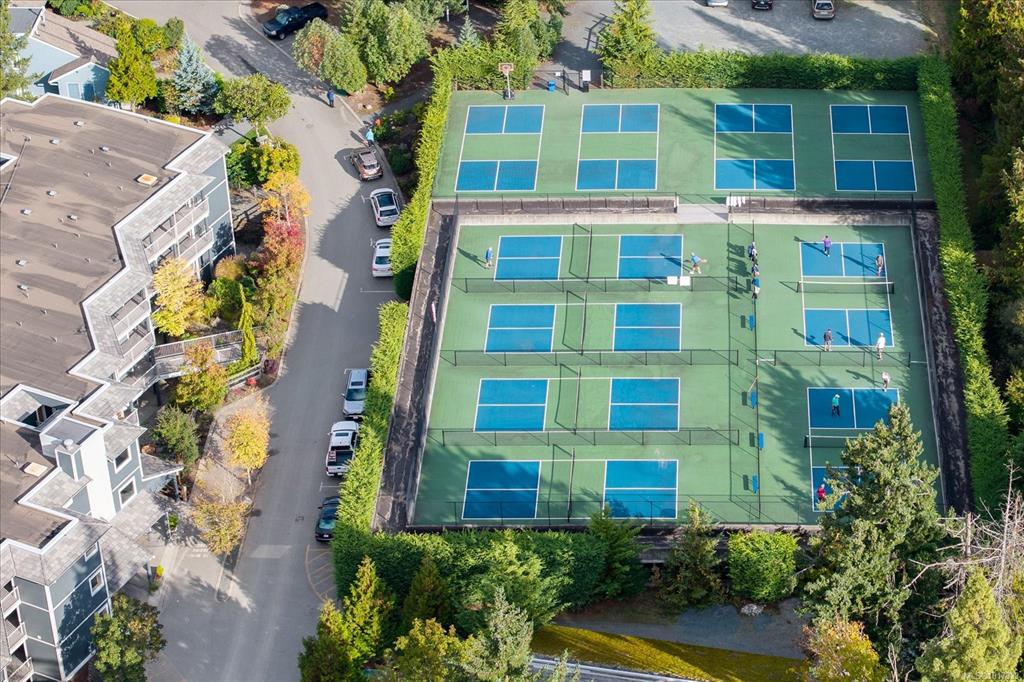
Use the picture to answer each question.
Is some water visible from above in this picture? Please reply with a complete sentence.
No, the picture contains no water.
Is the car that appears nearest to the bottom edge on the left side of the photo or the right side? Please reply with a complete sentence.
The car that appears nearest to the bottom edge is on the left side of the image.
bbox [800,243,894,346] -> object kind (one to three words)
sports court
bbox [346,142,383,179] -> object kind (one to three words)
car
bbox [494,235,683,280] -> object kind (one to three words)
sports court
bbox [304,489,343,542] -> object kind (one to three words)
car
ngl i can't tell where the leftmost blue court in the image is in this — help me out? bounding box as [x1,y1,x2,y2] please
[454,105,546,191]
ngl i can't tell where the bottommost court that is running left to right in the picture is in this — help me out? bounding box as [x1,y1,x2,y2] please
[462,459,678,520]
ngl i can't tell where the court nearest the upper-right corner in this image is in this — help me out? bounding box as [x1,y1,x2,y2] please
[828,104,919,190]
